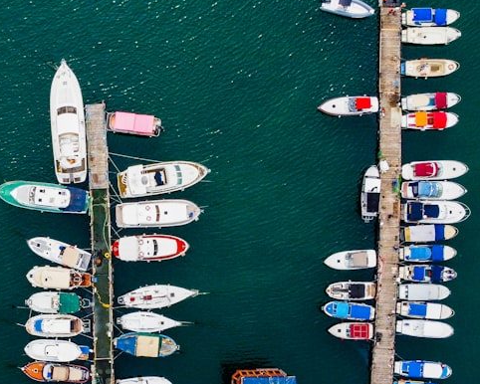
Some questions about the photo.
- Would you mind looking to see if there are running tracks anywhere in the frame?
No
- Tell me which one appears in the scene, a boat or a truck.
boat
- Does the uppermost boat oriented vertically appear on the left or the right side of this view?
left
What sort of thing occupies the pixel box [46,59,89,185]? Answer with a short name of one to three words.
boat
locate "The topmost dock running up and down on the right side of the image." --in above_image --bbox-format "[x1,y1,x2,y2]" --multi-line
[372,6,405,332]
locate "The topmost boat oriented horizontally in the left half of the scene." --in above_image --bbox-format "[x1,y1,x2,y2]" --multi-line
[105,110,169,141]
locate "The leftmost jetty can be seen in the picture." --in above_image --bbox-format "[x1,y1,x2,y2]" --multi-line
[85,103,119,384]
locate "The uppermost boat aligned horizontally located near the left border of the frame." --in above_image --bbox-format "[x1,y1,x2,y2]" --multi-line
[0,180,92,221]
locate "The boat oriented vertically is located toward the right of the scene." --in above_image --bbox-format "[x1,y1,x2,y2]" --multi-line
[357,164,383,227]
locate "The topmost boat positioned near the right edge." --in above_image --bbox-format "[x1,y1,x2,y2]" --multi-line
[401,4,461,27]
